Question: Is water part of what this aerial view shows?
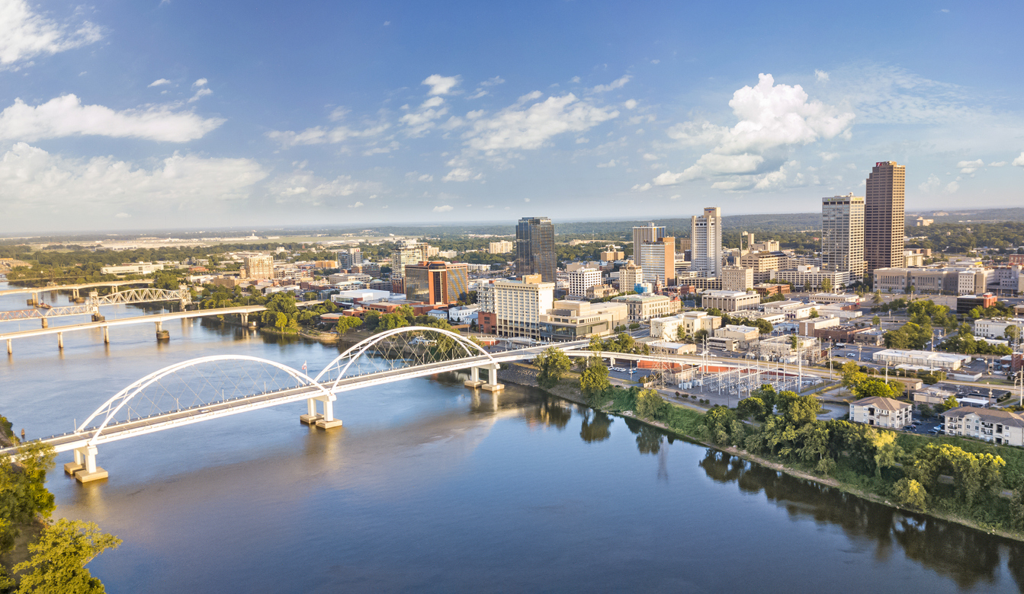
Yes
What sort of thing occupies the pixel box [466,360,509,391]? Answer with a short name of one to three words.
pier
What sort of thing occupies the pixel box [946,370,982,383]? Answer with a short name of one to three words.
building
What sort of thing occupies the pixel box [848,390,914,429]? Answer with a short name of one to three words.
house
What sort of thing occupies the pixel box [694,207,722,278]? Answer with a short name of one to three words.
building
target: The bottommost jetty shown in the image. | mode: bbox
[63,441,110,484]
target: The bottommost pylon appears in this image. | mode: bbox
[654,338,670,386]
